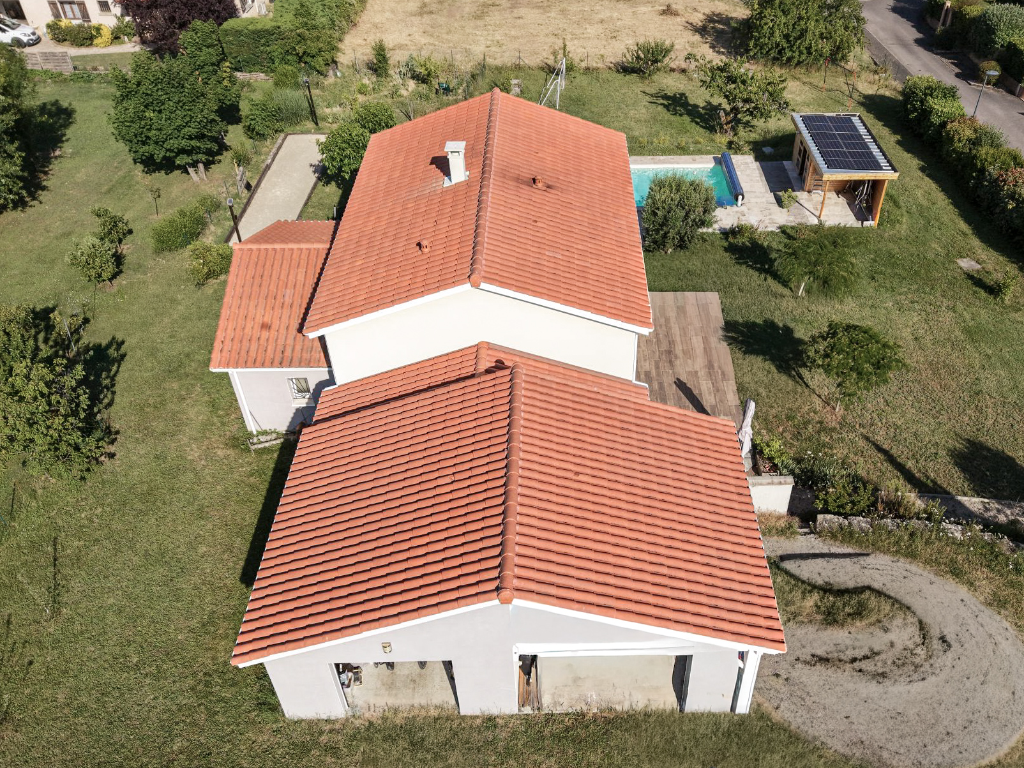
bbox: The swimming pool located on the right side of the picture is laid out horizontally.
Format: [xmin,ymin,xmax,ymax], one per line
[630,162,742,208]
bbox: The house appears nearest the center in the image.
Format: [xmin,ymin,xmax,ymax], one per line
[205,89,789,715]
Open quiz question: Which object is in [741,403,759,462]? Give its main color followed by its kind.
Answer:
white umbrella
